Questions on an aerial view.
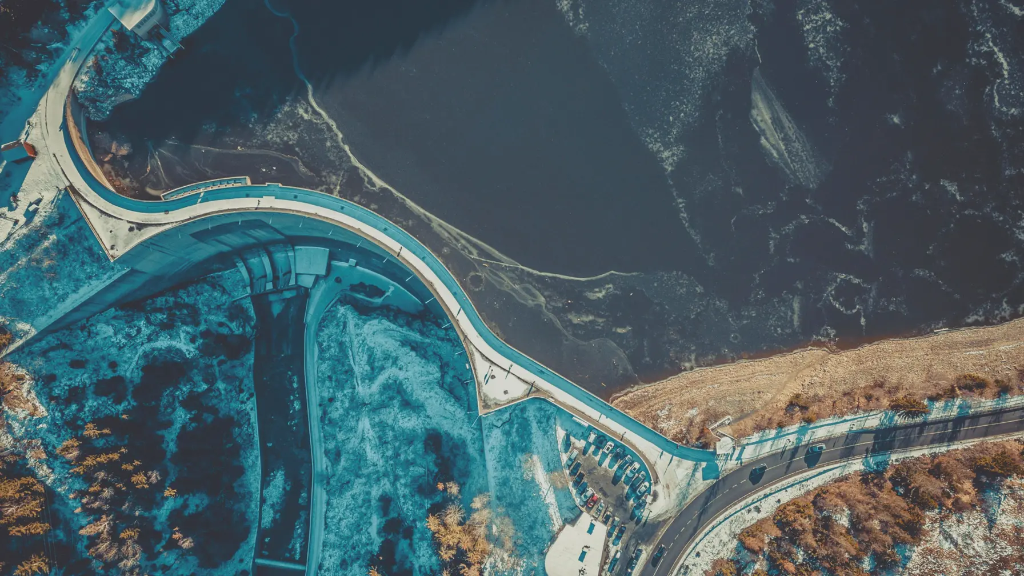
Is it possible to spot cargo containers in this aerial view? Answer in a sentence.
No, there's no cargo container here.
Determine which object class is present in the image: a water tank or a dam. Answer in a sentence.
The image shows a dam.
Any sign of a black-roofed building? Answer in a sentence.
No, there isn't any black-roofed building down there.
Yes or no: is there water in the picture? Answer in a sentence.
Yes, some water is visible.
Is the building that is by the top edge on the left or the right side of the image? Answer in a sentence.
The building that is by the top edge sits on the left side.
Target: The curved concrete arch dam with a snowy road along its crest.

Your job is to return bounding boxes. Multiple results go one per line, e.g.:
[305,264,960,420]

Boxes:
[61,15,717,495]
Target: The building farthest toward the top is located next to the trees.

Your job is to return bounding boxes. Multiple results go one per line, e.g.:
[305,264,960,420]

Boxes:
[108,0,171,40]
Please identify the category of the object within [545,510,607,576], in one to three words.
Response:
building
